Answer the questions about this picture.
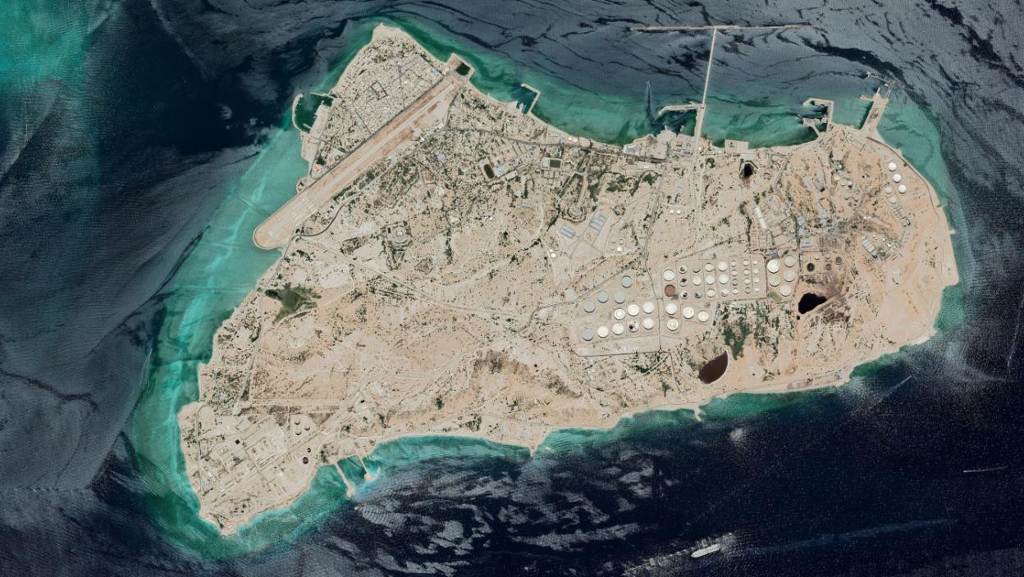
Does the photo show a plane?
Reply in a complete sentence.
No, the picture doesn't show any plane.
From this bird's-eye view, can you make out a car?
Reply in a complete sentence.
No, the photo shows no car.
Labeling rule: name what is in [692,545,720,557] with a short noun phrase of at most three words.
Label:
ship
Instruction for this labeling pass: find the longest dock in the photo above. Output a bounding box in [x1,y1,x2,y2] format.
[629,25,812,109]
